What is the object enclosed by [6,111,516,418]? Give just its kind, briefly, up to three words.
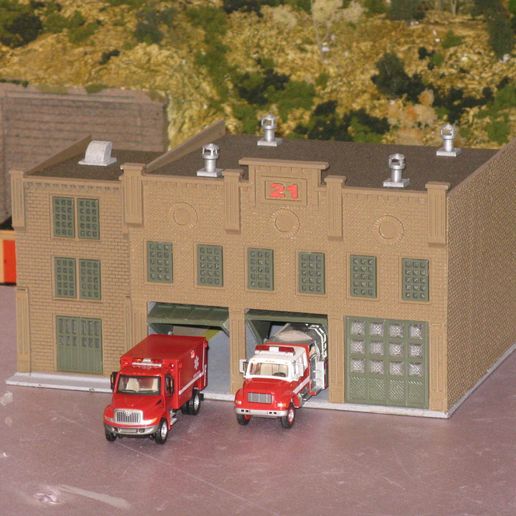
building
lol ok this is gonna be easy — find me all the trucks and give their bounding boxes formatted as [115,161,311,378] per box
[237,325,329,430]
[104,339,206,447]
